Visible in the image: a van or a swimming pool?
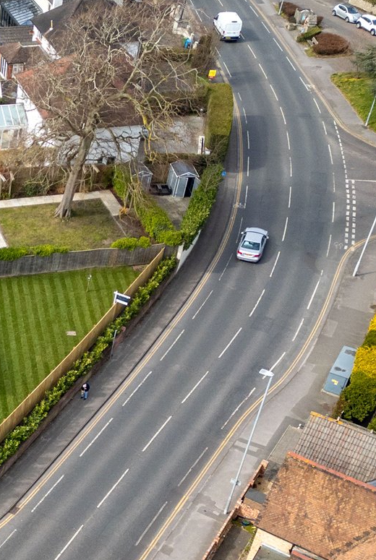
van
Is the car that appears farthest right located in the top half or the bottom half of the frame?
top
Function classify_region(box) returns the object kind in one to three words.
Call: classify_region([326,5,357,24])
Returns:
car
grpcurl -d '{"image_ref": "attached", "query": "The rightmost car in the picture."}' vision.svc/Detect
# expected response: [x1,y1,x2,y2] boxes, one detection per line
[352,12,376,36]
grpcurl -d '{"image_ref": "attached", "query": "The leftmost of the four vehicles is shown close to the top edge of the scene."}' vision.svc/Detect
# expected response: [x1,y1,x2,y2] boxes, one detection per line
[213,15,243,46]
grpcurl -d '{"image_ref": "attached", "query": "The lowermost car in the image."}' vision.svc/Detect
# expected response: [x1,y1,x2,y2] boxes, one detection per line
[236,229,269,265]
